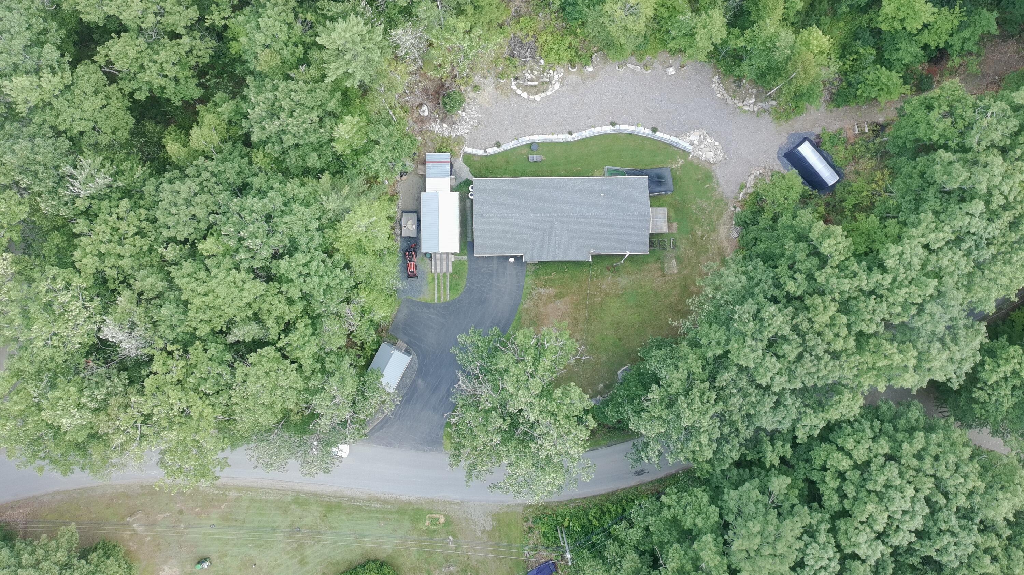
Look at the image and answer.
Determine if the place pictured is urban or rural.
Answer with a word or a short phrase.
rural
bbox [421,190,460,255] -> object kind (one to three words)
building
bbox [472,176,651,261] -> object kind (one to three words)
house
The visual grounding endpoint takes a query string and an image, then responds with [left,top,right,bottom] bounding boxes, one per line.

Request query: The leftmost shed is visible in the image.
[366,343,413,394]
